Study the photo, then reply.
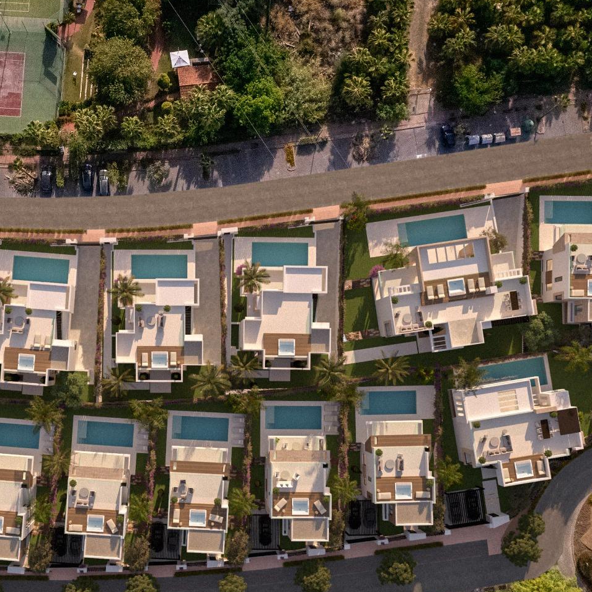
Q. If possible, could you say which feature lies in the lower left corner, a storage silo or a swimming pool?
swimming pool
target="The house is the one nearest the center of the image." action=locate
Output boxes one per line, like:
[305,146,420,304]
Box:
[238,266,331,370]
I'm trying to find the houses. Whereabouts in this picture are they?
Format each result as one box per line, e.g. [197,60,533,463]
[265,434,337,543]
[115,280,205,385]
[64,448,140,562]
[166,443,237,557]
[366,237,538,351]
[361,419,437,528]
[538,222,592,331]
[0,280,80,386]
[0,452,45,563]
[238,266,331,370]
[435,376,587,484]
